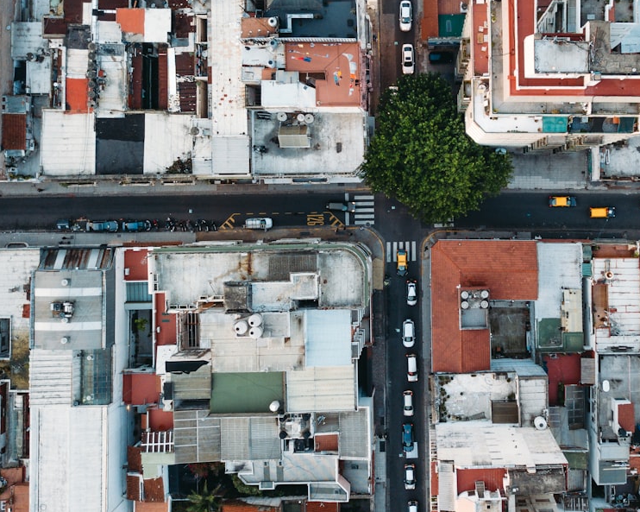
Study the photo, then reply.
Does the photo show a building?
Yes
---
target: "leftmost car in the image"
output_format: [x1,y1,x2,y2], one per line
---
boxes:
[88,220,118,232]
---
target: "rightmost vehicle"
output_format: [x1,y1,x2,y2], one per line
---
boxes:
[588,205,615,218]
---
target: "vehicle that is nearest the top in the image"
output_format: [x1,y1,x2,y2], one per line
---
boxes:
[399,2,412,31]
